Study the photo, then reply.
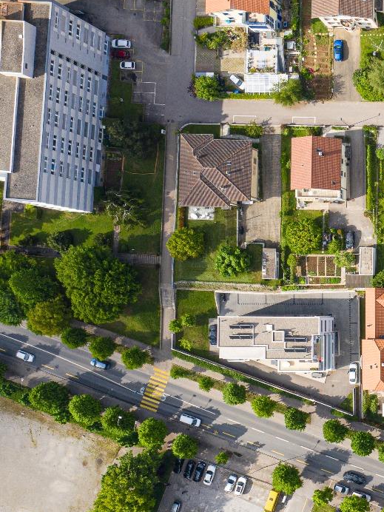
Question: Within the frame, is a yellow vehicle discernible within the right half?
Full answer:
Yes, a yellow vehicle can be seen within the right half.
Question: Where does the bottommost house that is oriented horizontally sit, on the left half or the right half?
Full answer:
The bottommost house that is oriented horizontally is on the right side of the image.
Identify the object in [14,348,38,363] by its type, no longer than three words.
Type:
car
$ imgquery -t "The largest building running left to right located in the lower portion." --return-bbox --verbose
[217,316,342,371]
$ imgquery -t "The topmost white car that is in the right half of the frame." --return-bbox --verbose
[228,73,244,90]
